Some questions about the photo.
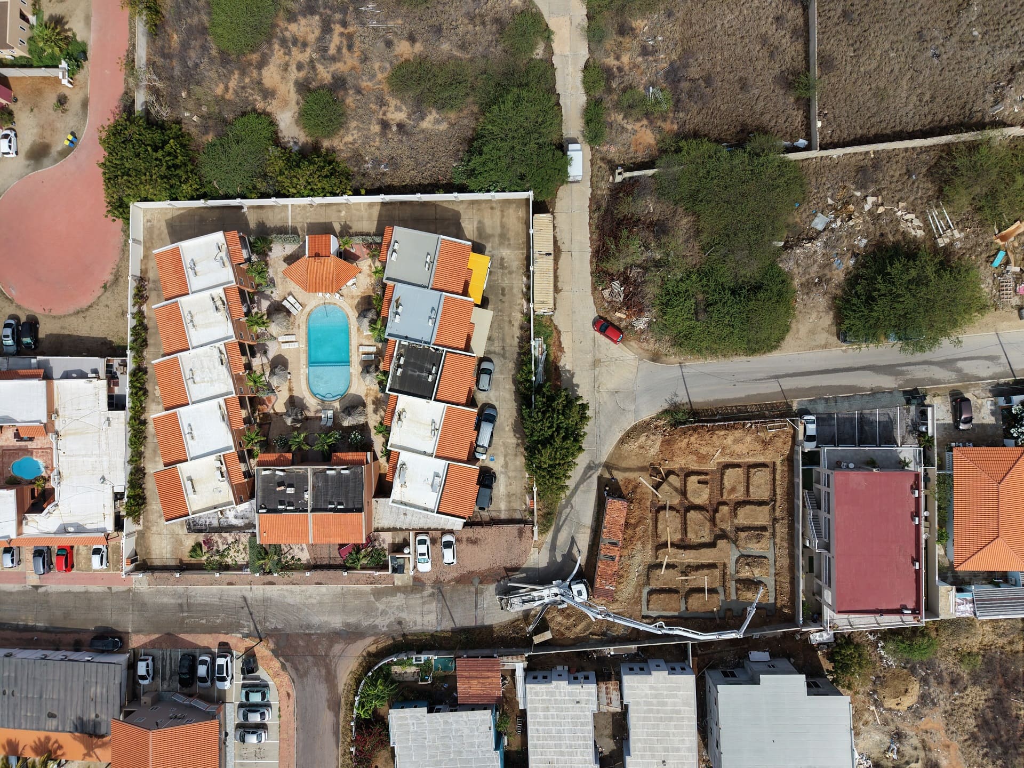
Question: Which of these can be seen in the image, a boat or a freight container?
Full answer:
Visible in the photo is a freight container.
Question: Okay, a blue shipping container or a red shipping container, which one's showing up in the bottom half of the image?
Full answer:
It is a red shipping container that can be seen in the bottom half of the image.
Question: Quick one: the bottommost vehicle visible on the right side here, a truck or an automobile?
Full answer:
What you see as the bottommost vehicle visible on the right side is a truck.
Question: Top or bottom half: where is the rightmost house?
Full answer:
The rightmost house is in the bottom half of the image.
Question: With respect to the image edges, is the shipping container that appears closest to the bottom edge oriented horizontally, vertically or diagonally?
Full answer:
What the image shows is the shipping container that appears closest to the bottom edge lying vertically.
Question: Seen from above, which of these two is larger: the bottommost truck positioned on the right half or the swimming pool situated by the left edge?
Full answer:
The larger object is the truck, with the swimming pool being the smaller of the pair.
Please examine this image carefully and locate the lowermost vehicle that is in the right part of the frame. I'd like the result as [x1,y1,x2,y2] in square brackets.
[498,550,764,641]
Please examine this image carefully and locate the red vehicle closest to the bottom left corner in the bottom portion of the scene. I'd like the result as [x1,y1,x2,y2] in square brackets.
[54,546,77,576]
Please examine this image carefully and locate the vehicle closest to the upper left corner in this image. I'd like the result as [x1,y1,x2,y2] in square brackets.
[0,128,21,160]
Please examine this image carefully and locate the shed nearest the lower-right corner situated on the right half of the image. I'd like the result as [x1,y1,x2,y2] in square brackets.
[929,582,955,618]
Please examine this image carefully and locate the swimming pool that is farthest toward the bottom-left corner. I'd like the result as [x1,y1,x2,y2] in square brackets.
[11,456,44,480]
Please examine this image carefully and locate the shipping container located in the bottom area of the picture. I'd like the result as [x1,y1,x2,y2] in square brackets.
[590,494,628,602]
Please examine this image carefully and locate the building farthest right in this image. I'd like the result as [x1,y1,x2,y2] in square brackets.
[944,446,1024,573]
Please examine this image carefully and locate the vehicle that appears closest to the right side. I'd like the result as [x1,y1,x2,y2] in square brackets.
[951,396,974,430]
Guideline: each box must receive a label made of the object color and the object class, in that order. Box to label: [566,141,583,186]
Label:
white vehicle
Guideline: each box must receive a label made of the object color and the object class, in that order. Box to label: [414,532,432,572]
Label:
white car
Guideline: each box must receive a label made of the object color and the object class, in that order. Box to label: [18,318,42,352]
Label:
black car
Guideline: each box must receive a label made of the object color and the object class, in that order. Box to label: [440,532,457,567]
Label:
white car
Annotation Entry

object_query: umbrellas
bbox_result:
[339,400,367,428]
[361,365,380,384]
[269,365,290,386]
[268,310,291,333]
[284,405,306,426]
[359,310,379,329]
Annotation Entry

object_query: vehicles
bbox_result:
[0,128,21,160]
[18,318,42,352]
[135,653,155,685]
[498,550,764,641]
[239,703,275,723]
[214,650,234,689]
[477,467,495,510]
[54,546,77,576]
[414,532,432,572]
[235,725,271,746]
[799,413,819,448]
[951,396,974,430]
[566,141,583,186]
[440,532,457,567]
[195,651,215,687]
[240,684,273,703]
[238,653,257,681]
[0,318,23,356]
[476,404,498,455]
[176,652,196,687]
[89,539,111,574]
[0,540,22,573]
[87,633,126,653]
[477,357,496,393]
[30,546,55,580]
[590,317,626,345]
